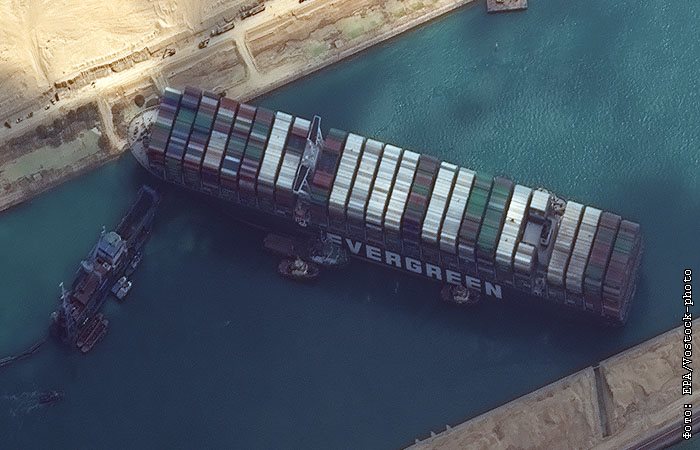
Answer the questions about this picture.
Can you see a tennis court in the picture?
No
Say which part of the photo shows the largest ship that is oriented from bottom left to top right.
left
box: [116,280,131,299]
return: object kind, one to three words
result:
boat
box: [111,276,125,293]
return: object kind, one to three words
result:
boat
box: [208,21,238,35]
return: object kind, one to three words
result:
vehicle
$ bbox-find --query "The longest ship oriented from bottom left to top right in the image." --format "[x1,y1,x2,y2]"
[44,179,164,343]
